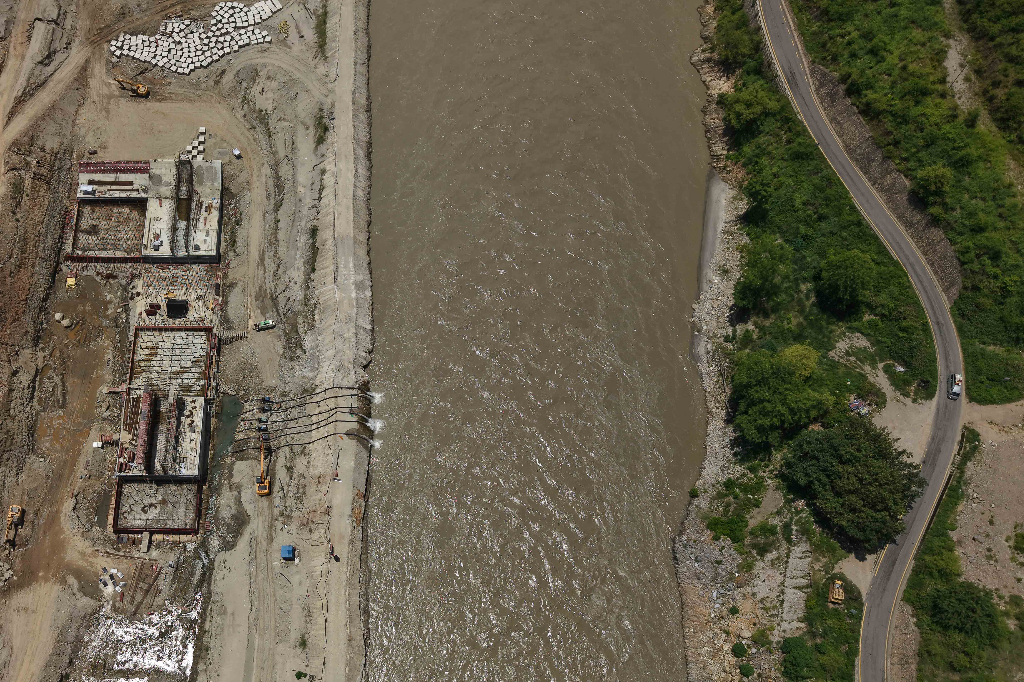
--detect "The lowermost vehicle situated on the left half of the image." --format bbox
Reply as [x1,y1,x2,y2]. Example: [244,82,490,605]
[0,501,26,546]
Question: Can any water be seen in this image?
Yes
